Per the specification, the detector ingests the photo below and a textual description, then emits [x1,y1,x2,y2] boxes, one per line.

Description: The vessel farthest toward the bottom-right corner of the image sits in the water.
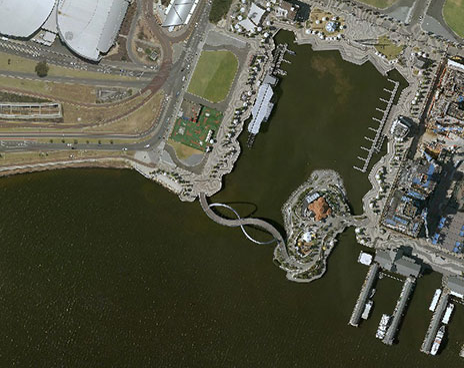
[431,326,444,355]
